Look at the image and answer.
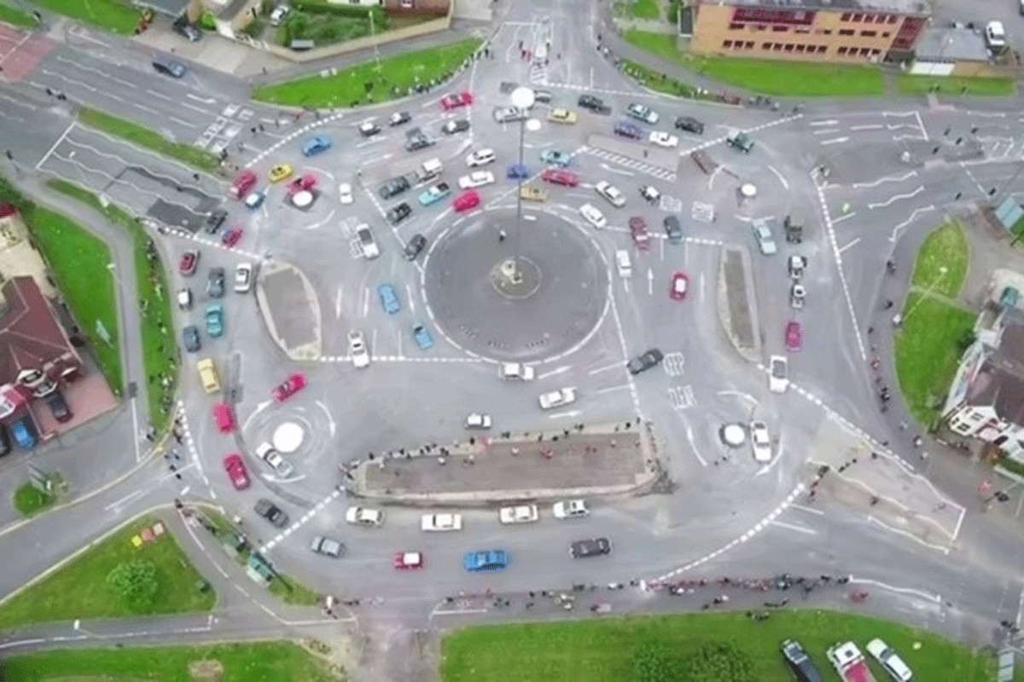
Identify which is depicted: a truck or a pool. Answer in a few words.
truck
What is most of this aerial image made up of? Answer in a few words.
paved ground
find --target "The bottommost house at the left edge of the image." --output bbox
[0,275,91,424]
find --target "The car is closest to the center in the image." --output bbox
[497,364,535,381]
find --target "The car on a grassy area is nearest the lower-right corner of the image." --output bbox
[865,636,915,682]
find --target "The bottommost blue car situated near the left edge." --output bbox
[7,414,40,449]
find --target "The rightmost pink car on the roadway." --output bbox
[785,322,803,352]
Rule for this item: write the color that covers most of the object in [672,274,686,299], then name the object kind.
white car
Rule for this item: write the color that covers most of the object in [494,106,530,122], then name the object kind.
white car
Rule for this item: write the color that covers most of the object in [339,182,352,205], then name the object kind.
white vehicle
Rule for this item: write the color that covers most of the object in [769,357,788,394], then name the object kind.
white vehicle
